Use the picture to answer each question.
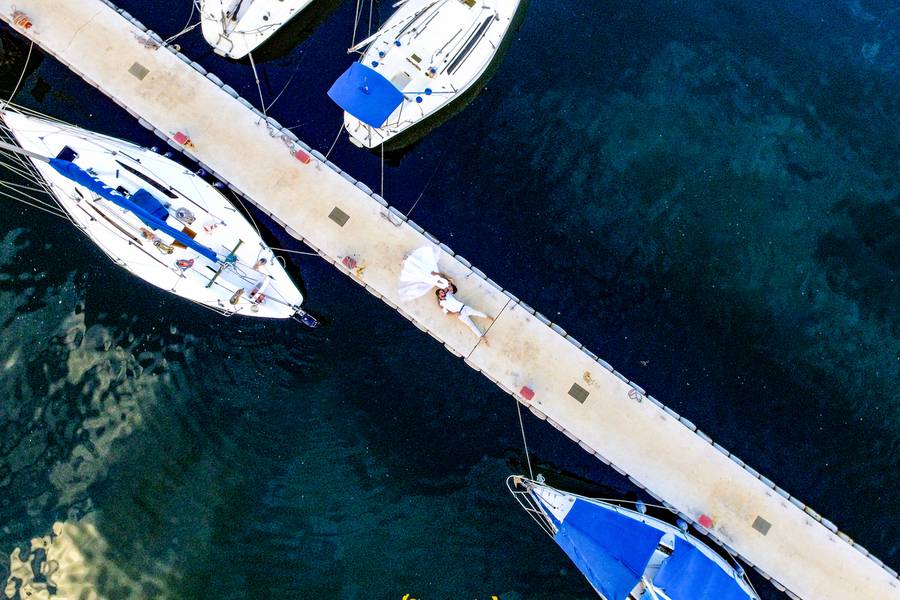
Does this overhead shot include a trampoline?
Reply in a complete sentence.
No, no trampoline is visible in the view.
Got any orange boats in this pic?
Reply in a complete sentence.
No, there is no orange boat in the image.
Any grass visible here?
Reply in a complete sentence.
No, no grass is visible.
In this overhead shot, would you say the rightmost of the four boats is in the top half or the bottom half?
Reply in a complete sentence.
The bottom half of the photo is where the rightmost of the four boats is.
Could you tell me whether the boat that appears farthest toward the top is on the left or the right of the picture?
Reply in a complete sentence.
The boat that appears farthest toward the top sits on the left side.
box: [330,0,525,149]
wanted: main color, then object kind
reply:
white boat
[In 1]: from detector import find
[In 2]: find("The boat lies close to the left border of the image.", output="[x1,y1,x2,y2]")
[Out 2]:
[0,107,317,327]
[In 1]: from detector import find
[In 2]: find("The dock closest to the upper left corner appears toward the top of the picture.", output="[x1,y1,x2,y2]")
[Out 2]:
[0,0,512,359]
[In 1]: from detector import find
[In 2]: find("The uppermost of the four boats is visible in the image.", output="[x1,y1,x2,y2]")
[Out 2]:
[200,0,315,60]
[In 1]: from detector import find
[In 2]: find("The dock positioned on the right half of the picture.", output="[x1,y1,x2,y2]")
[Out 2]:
[468,298,900,600]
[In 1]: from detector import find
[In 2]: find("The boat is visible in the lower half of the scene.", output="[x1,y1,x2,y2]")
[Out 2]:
[507,473,765,600]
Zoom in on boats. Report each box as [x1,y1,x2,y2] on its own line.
[507,473,765,600]
[200,0,315,60]
[0,107,317,327]
[330,0,525,149]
